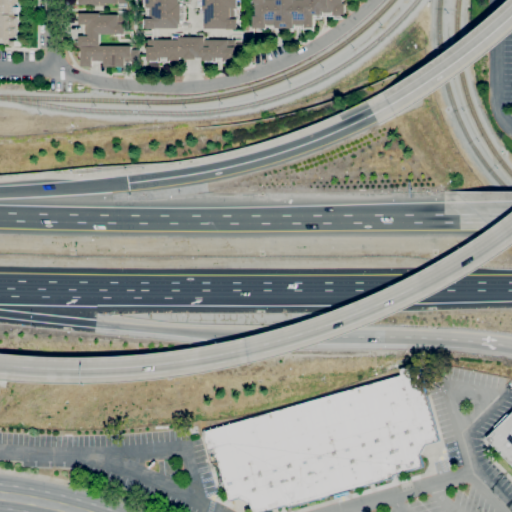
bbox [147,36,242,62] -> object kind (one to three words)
house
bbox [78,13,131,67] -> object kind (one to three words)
house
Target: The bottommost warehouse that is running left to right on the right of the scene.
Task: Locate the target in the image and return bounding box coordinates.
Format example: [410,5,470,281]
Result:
[203,371,438,512]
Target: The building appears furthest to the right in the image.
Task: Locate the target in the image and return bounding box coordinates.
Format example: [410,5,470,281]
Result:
[484,408,512,464]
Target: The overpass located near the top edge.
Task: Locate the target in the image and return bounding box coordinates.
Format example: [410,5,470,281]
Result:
[366,0,512,126]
